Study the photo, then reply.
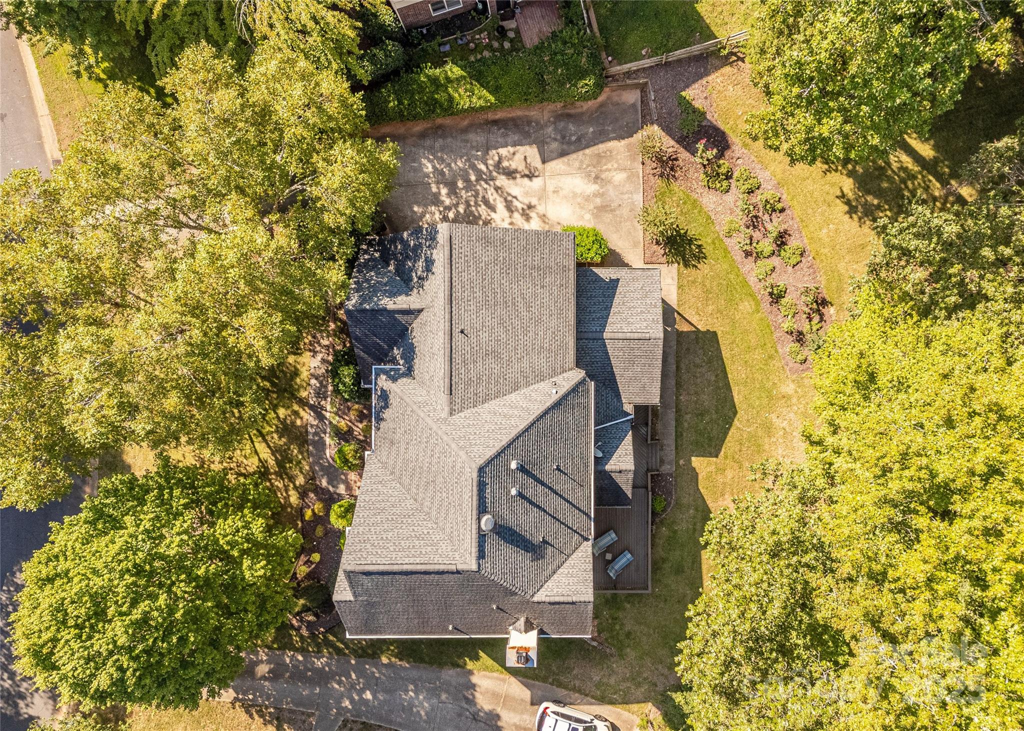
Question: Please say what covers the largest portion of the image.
trees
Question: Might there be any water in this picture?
No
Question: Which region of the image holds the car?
bottom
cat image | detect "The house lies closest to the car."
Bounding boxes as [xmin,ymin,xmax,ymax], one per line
[333,223,666,668]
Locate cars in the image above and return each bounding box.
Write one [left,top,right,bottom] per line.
[540,698,611,731]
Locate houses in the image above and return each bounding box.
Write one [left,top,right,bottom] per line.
[394,0,475,31]
[333,223,666,668]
